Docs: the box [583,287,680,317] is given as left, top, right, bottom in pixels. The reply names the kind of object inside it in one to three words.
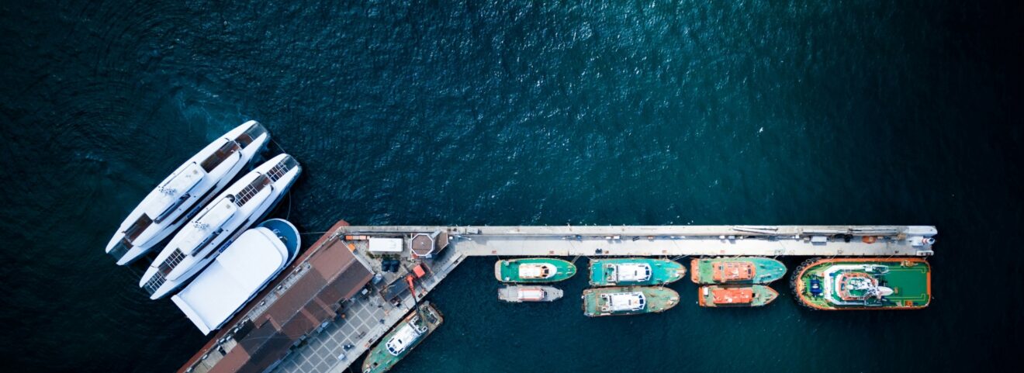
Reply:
boat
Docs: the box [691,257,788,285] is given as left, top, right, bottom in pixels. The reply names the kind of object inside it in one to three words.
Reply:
boat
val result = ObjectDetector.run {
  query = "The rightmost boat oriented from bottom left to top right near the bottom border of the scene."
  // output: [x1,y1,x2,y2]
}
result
[361,302,442,373]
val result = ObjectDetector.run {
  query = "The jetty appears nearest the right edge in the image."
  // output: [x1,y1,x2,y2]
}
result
[340,225,937,258]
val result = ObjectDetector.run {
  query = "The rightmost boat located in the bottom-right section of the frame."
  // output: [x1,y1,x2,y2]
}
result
[789,253,931,313]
